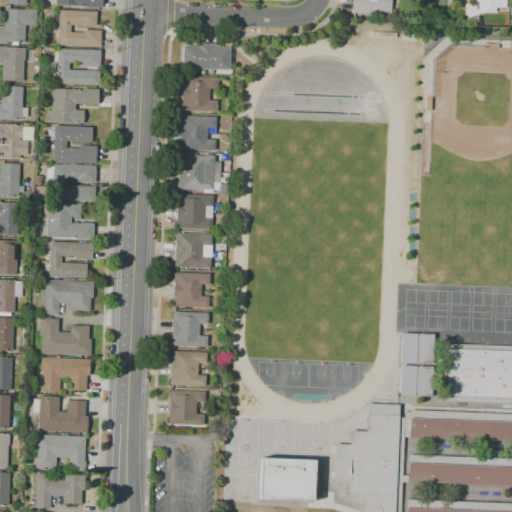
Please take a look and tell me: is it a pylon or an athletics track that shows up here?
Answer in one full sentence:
I can see an athletics track in this picture.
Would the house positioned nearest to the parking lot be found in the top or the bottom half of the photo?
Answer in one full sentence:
The bottom half of the photo is where the house positioned nearest to the parking lot is.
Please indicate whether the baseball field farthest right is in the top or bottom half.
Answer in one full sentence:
It is in the top half that the baseball field farthest right appears.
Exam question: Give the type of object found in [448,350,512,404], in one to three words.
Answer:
building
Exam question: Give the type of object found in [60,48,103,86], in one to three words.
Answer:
house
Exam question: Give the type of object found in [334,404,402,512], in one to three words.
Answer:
building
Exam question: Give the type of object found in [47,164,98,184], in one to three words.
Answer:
house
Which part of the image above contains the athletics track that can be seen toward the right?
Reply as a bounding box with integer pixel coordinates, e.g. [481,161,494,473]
[234,42,406,417]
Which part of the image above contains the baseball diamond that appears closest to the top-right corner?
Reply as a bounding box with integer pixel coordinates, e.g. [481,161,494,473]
[418,45,512,286]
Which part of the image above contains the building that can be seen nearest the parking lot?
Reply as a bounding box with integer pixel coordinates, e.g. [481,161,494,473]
[169,389,208,428]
